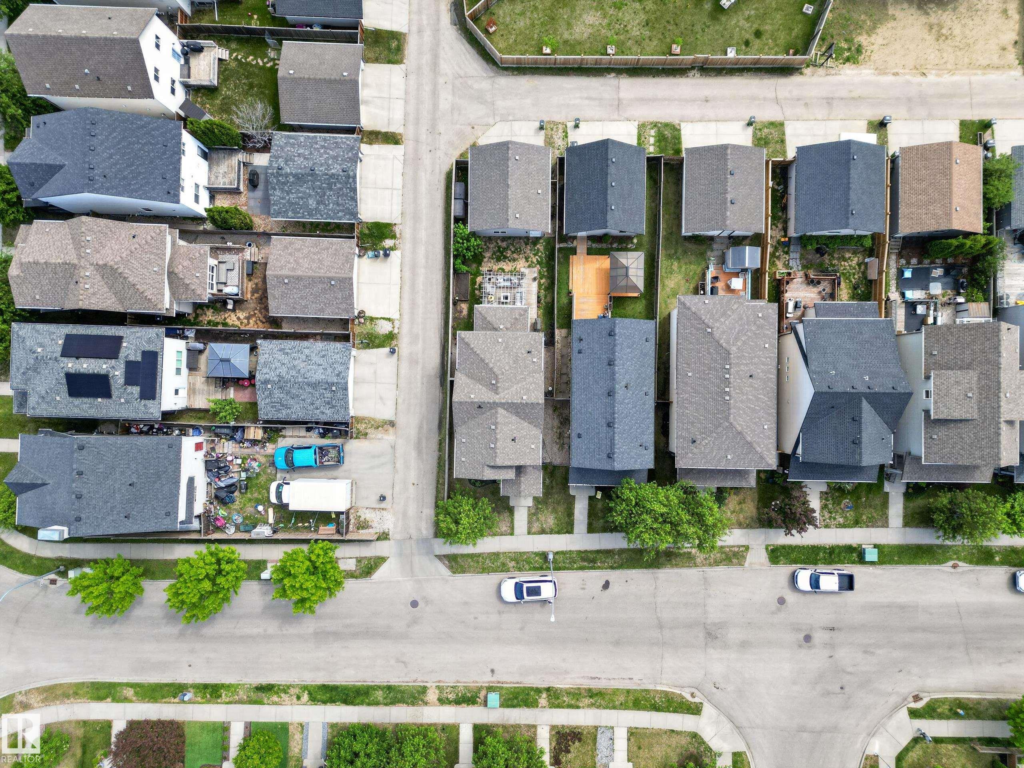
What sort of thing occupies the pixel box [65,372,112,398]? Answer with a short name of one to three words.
solar panel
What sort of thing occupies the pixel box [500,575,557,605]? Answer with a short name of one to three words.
car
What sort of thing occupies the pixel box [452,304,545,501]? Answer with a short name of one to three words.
house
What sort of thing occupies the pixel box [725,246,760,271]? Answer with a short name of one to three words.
shed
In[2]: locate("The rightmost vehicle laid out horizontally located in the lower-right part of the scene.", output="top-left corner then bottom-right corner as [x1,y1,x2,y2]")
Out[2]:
[792,567,857,596]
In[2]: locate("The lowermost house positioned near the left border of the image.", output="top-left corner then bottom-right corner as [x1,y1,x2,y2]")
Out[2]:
[4,428,209,541]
